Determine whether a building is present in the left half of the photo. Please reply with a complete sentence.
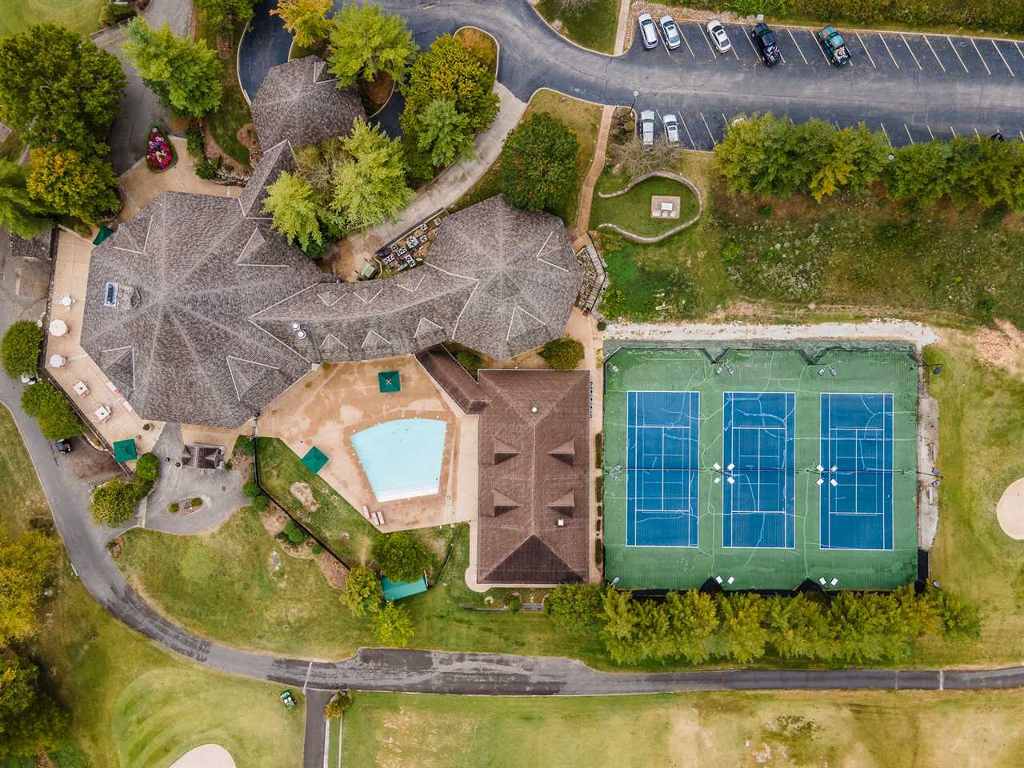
Yes, a building shows up in the left half of the photo.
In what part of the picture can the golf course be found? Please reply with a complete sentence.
The golf course appears toward the bottom left of the photo.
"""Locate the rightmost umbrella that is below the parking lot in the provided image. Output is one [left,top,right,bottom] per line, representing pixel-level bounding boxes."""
[379,371,400,392]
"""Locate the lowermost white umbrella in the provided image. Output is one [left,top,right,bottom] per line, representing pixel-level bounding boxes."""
[49,354,66,369]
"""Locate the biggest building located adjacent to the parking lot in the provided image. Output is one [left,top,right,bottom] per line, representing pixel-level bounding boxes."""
[79,54,584,429]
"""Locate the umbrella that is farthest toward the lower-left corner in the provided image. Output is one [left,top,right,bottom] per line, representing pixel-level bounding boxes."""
[113,438,138,462]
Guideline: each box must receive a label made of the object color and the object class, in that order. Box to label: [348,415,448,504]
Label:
white swimming pool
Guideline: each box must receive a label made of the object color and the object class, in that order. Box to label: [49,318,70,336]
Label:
white umbrella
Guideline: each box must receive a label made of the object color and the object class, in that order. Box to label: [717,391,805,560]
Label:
blue tennis court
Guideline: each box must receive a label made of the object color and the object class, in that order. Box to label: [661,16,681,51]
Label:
white car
